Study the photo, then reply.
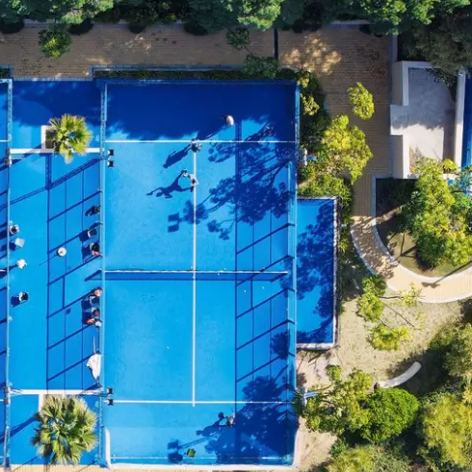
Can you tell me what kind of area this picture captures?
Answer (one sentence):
This looks like a sports ground.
